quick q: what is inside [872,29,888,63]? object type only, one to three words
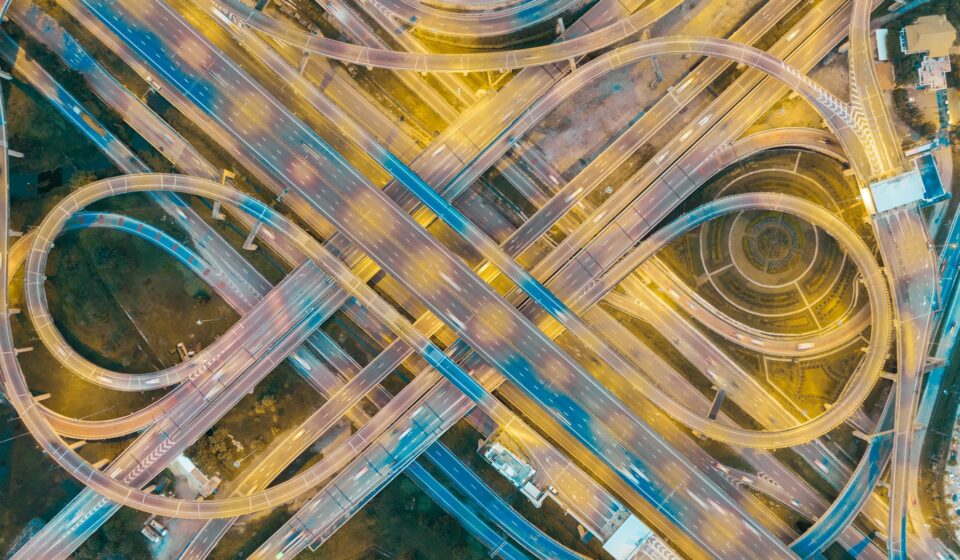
shed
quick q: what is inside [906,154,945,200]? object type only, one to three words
building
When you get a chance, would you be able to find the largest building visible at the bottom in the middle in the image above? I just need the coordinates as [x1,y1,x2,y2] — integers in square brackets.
[485,440,536,489]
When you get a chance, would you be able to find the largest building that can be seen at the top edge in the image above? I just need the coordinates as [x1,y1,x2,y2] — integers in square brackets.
[900,12,958,59]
